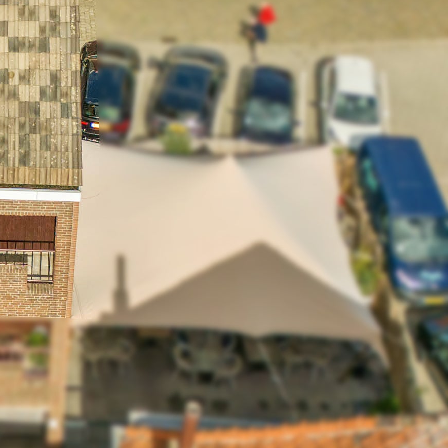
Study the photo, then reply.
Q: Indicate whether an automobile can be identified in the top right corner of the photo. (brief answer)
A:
Yes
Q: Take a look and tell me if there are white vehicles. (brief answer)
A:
Yes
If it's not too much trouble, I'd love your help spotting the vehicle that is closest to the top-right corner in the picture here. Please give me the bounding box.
[312,58,394,148]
